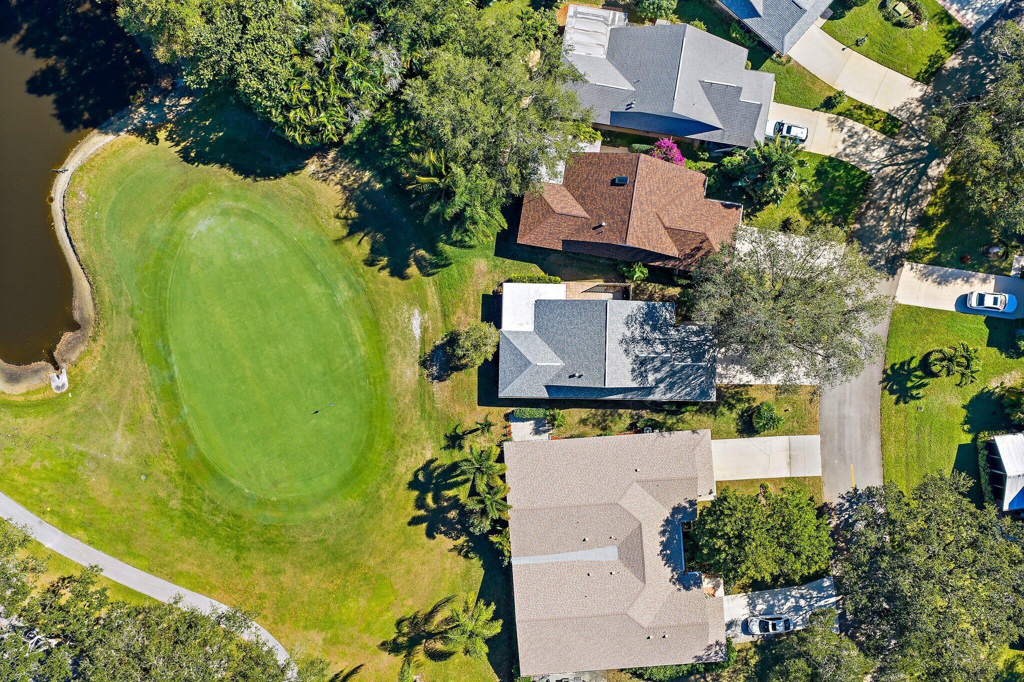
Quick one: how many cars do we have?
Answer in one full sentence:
There are 3 cars in the image.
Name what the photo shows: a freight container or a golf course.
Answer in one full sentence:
The one in the frame is a golf course.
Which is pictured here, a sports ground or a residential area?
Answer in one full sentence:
This image shows a residential area.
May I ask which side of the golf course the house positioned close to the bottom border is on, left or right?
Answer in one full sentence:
You can see the house positioned close to the bottom border positioned to the right of the golf course.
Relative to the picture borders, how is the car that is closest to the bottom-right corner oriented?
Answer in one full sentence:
I'd say the car that is closest to the bottom-right corner is aligned from side to side in the picture.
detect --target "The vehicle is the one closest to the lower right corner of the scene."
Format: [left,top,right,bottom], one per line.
[744,611,792,635]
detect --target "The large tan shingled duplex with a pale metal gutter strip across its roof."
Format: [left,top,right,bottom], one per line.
[504,429,728,677]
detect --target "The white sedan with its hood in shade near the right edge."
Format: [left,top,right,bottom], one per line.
[962,293,1015,316]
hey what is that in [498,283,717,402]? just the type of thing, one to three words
house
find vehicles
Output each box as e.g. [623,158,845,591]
[744,611,792,635]
[766,121,808,148]
[962,293,1015,316]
